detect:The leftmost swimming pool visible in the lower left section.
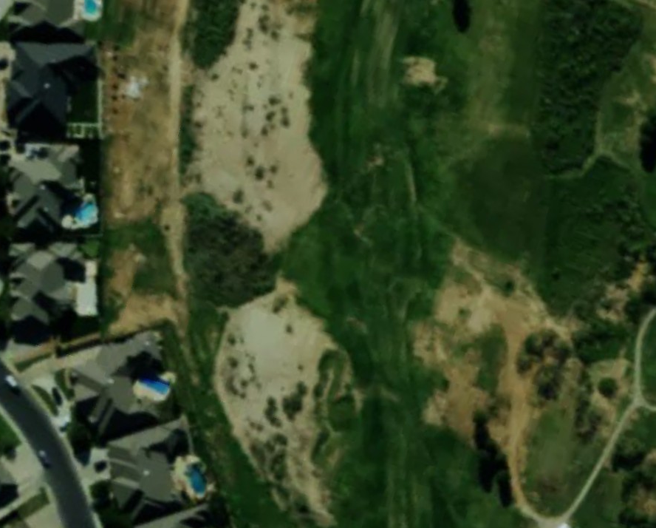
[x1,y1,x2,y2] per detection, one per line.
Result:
[139,371,176,399]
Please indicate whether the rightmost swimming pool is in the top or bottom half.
bottom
